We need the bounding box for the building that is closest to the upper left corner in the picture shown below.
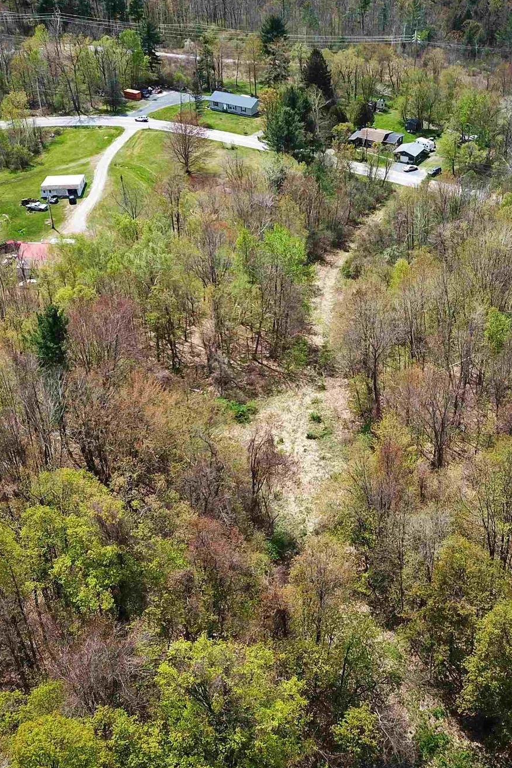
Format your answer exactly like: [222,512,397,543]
[37,173,86,196]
